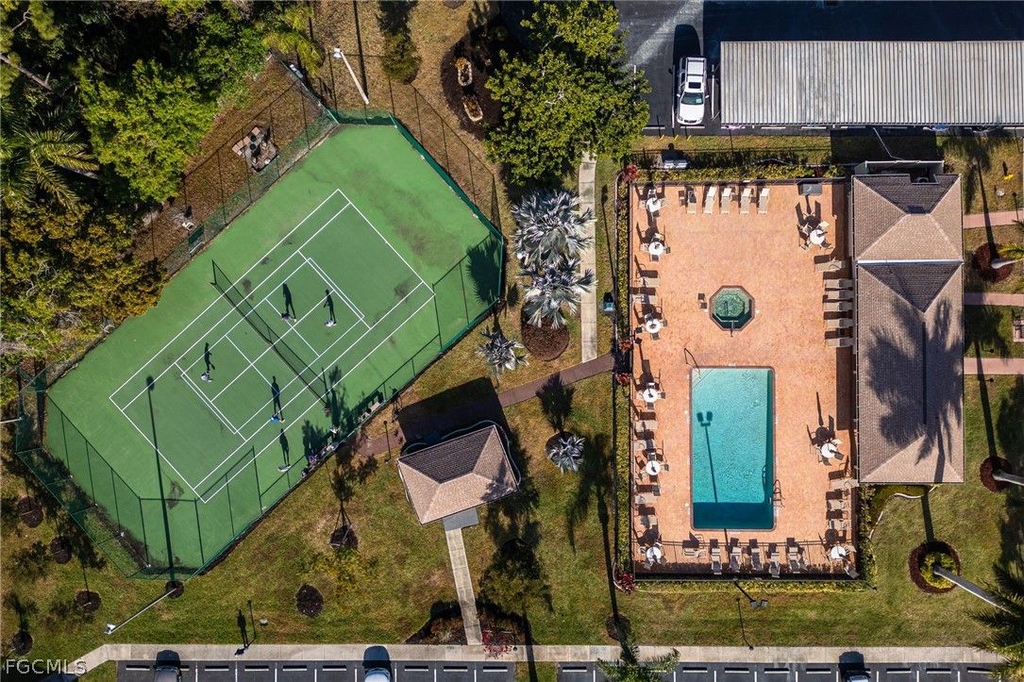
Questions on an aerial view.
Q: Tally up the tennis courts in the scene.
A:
1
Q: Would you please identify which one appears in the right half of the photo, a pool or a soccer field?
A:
pool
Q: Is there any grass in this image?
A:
Yes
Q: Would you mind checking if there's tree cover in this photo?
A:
Yes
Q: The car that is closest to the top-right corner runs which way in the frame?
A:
from top to bottom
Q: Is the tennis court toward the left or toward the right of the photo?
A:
left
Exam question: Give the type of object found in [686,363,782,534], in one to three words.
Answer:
swimming pool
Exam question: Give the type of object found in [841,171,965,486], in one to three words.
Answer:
building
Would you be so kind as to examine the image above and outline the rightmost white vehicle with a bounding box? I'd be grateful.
[677,59,710,124]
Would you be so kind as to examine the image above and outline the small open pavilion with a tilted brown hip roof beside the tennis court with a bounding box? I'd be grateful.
[395,424,520,525]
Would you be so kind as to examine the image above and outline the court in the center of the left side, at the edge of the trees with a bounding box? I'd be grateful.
[46,126,500,571]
